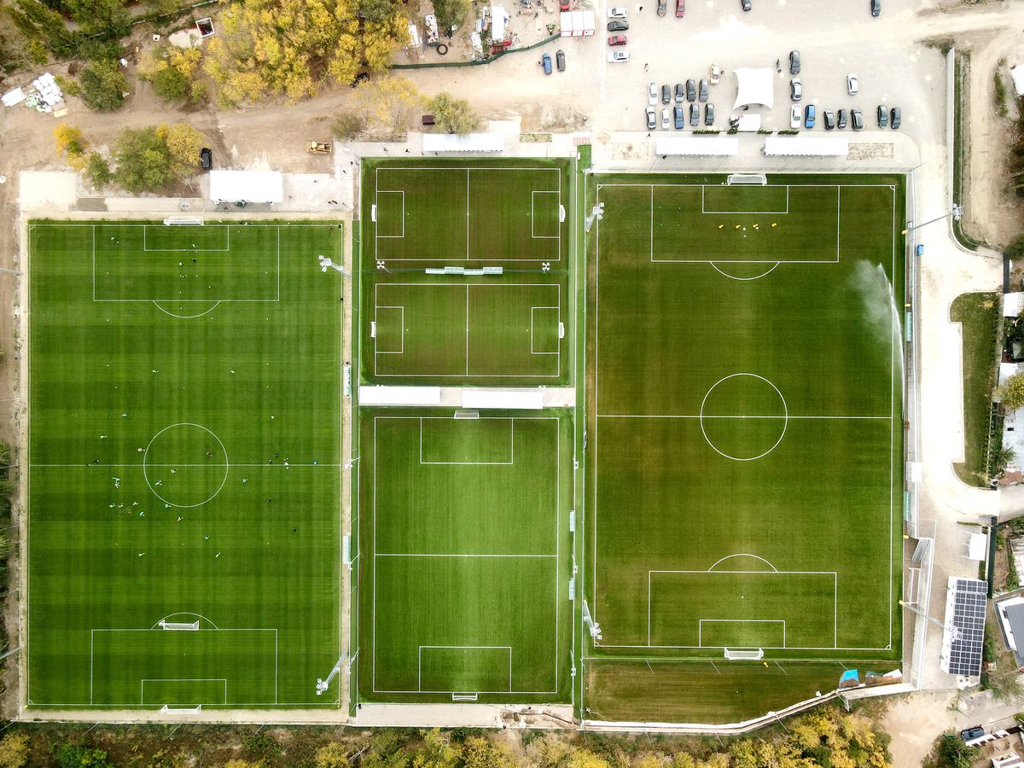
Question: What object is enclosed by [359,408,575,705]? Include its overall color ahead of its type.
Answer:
green soccer field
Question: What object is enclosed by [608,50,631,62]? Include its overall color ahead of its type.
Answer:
white vehicle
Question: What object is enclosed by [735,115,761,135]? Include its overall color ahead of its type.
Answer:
white tent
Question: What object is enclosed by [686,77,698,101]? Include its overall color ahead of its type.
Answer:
gray vehicle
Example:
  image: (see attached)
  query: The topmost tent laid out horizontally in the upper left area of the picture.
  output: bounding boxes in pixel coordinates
[210,171,288,206]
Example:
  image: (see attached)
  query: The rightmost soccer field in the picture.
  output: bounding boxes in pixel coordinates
[585,174,906,663]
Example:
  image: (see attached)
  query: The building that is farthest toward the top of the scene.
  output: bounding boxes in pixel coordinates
[561,9,596,38]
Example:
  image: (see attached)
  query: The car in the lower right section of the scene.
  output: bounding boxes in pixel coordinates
[962,727,988,743]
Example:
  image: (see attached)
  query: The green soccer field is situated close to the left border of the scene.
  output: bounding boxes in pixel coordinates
[26,219,344,711]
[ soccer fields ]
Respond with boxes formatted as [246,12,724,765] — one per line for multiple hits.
[585,174,906,663]
[26,219,344,711]
[360,273,570,387]
[360,159,570,273]
[359,408,575,705]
